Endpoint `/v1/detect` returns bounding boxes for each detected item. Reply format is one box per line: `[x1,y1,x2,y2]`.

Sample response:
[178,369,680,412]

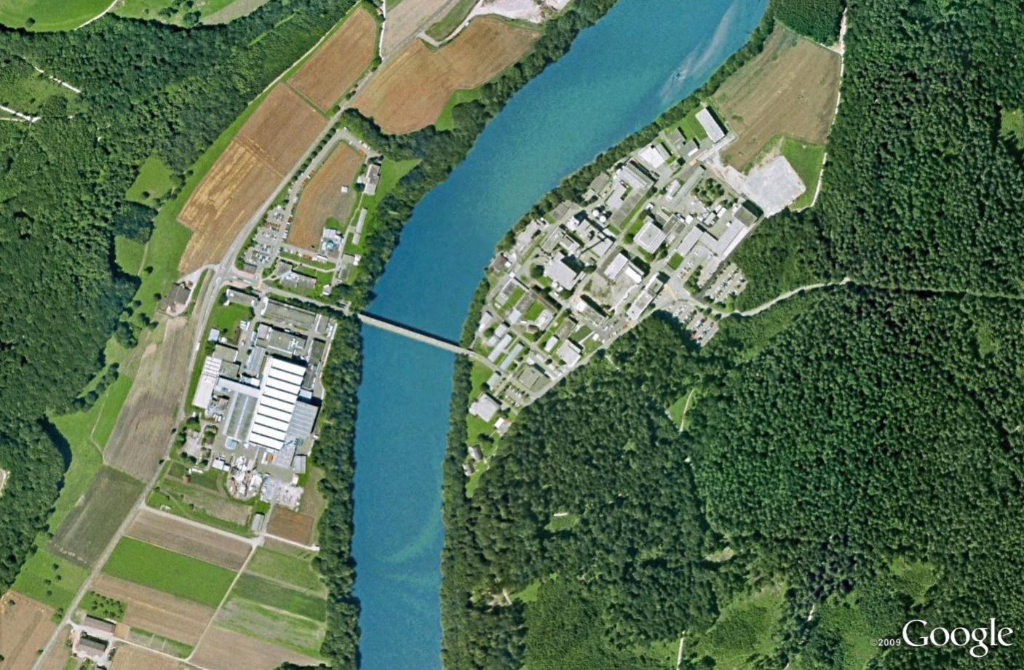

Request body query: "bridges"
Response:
[354,314,469,356]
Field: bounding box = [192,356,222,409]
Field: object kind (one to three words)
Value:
building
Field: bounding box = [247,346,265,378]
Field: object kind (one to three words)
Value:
building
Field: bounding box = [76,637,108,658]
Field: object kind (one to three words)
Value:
house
